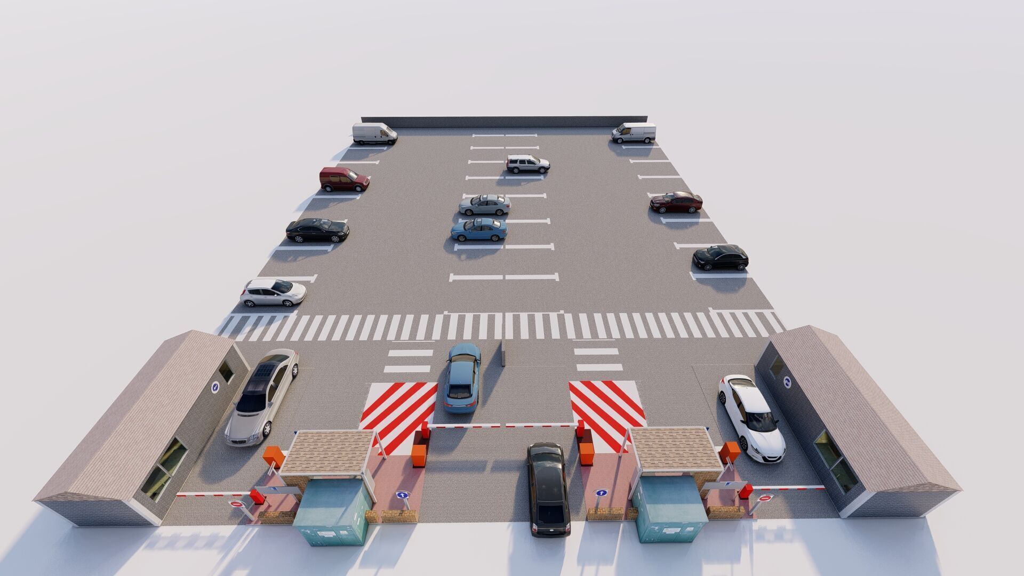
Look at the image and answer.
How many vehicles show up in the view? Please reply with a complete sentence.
There are 14 vehicles in the image.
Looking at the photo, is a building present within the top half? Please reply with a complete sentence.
No, looking within the top half, there is no building.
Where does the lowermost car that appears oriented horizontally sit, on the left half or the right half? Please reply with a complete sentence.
It is on the left.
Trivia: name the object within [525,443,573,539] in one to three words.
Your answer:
car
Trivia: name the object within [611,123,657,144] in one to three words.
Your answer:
vehicle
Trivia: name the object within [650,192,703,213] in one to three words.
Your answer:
car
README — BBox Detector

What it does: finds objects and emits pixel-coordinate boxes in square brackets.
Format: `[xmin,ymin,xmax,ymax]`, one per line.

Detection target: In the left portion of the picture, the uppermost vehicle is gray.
[352,122,399,145]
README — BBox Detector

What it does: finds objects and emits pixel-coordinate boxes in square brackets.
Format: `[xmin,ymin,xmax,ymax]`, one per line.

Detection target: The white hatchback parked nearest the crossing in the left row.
[239,279,307,308]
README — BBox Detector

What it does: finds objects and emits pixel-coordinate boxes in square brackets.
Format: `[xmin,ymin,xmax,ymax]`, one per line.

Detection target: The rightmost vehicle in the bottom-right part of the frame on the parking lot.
[718,375,789,465]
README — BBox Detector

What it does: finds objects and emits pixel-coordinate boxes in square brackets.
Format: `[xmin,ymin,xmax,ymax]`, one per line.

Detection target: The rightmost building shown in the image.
[756,325,964,518]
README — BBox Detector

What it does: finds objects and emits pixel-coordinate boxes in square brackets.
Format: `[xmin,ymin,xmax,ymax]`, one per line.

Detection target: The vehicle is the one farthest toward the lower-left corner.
[223,349,301,448]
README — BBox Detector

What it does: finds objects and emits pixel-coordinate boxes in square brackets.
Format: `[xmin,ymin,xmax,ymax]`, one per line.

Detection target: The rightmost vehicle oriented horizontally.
[692,245,749,270]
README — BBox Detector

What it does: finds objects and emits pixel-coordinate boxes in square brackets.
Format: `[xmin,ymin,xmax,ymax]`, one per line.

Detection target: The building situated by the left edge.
[30,329,252,528]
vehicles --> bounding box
[223,349,301,448]
[692,245,749,270]
[352,122,399,145]
[239,279,307,308]
[443,342,482,412]
[319,168,370,192]
[507,153,551,174]
[450,218,508,242]
[611,123,657,144]
[286,219,350,243]
[650,192,703,213]
[525,443,573,539]
[718,375,789,465]
[458,194,512,216]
